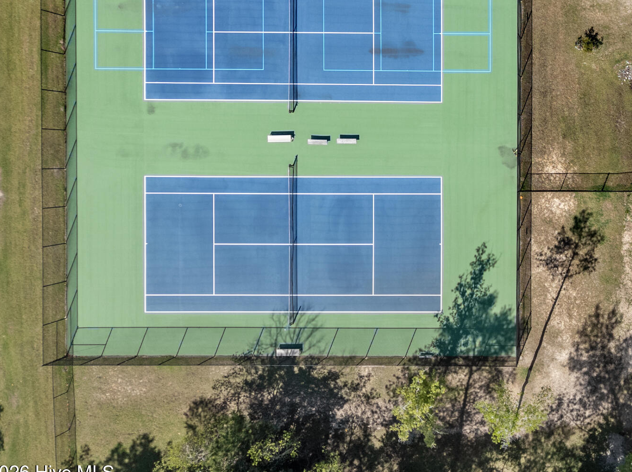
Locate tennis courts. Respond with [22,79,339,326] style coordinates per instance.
[66,139,517,357]
[66,0,517,139]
